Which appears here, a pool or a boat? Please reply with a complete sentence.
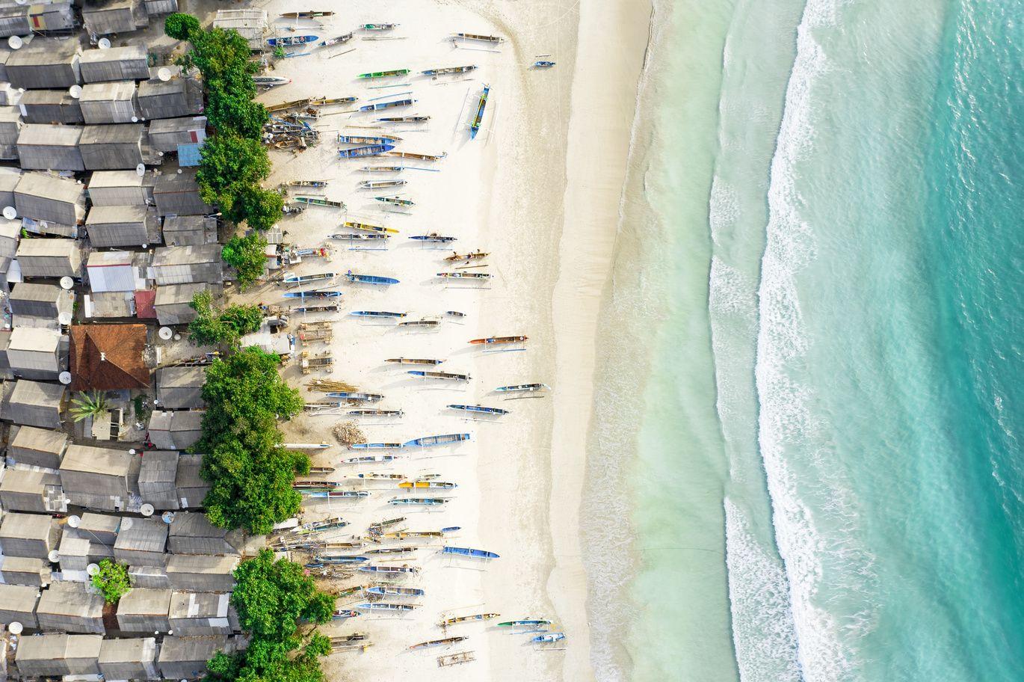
Visible in the photo is a boat.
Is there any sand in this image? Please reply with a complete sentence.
Yes, the picture does contain sand.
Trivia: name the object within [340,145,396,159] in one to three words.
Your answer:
boat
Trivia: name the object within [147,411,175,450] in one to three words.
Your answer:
house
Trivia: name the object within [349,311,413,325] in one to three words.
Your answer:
boat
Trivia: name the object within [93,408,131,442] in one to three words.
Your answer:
building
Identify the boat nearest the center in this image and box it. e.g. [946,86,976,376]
[470,336,534,352]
